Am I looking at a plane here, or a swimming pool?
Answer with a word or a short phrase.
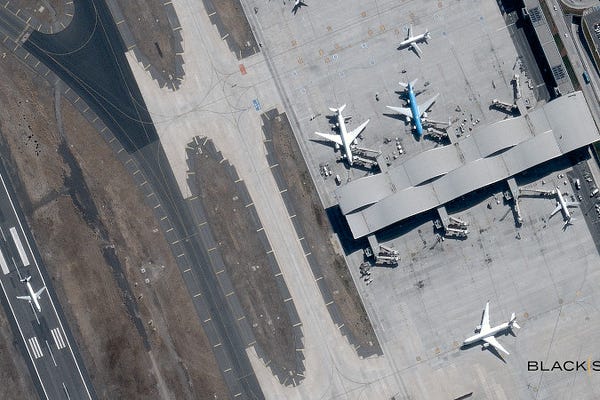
plane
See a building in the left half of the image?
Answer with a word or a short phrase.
No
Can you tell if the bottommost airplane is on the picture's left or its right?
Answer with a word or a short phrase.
right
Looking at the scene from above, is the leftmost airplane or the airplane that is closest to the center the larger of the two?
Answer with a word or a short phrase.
the airplane that is closest to the center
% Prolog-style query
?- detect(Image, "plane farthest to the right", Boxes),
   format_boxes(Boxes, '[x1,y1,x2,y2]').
[551,187,582,225]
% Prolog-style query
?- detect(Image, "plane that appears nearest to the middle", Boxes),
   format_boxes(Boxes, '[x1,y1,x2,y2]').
[315,105,370,166]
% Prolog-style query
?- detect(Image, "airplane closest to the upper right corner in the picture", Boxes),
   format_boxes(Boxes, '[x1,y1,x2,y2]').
[400,24,432,54]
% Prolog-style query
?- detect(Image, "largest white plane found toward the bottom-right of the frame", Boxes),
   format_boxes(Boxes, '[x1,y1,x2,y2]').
[463,302,521,353]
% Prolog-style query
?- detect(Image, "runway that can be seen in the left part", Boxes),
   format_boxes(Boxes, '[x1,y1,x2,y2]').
[0,152,100,400]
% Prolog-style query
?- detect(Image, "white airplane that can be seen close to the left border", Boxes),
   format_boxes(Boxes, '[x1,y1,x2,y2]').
[16,275,46,313]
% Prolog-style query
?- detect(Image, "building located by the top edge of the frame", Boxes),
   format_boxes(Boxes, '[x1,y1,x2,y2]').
[523,0,572,89]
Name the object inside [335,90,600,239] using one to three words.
building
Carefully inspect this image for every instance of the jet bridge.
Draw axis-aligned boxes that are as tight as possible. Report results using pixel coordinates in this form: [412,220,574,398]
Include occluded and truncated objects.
[354,146,382,154]
[449,217,469,227]
[519,189,555,194]
[424,118,452,124]
[515,197,522,224]
[446,228,469,234]
[492,100,517,108]
[515,75,521,99]
[428,127,449,136]
[379,245,399,255]
[354,155,377,165]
